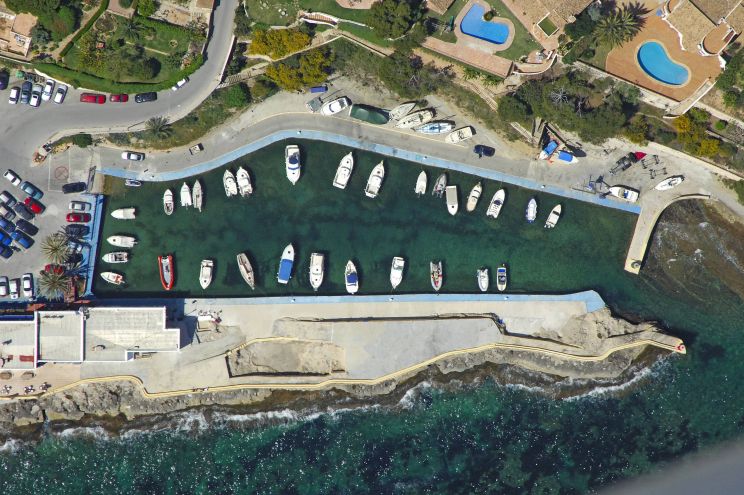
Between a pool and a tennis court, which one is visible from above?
pool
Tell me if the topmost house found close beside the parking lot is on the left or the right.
left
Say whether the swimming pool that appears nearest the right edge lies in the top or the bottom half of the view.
top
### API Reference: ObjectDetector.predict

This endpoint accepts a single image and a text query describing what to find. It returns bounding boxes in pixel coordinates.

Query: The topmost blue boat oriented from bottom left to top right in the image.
[541,138,559,160]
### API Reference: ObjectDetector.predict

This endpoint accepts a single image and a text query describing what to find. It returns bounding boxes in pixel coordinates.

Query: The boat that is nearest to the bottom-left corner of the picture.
[90,272,126,285]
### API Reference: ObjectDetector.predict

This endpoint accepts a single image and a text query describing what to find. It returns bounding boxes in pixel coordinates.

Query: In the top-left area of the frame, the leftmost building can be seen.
[0,12,33,57]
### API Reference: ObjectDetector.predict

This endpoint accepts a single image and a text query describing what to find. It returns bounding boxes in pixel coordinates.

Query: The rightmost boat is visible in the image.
[655,174,684,188]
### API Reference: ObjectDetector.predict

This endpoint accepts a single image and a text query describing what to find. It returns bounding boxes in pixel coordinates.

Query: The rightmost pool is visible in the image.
[635,40,690,87]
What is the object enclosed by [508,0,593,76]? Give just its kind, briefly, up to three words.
house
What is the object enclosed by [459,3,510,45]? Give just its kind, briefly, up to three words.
swimming pool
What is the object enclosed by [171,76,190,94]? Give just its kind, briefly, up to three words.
car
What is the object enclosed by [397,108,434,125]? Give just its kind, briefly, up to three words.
boat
